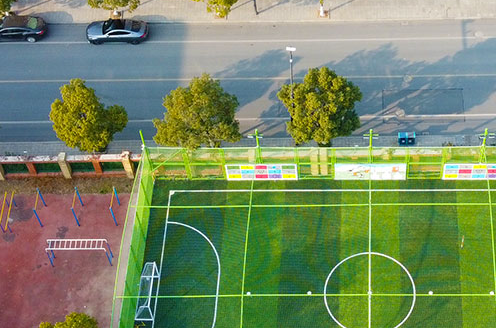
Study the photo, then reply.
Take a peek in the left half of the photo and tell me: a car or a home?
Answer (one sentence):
The feature located in the left half of the photo is a car.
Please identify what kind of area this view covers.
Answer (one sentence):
This image shows a sports ground.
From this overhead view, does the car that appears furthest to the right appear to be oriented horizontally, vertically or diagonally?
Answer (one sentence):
I'd say the car that appears furthest to the right is aligned horizontally in the picture.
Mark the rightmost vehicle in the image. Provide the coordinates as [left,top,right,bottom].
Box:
[84,13,150,41]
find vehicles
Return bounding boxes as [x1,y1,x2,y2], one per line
[0,15,48,42]
[84,13,150,41]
